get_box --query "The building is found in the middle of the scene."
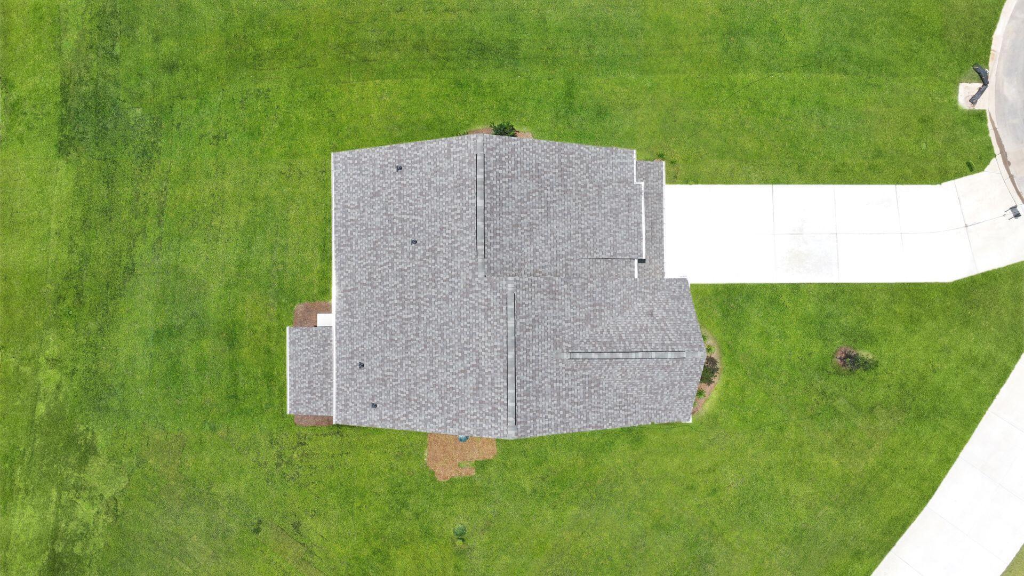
[286,134,705,439]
